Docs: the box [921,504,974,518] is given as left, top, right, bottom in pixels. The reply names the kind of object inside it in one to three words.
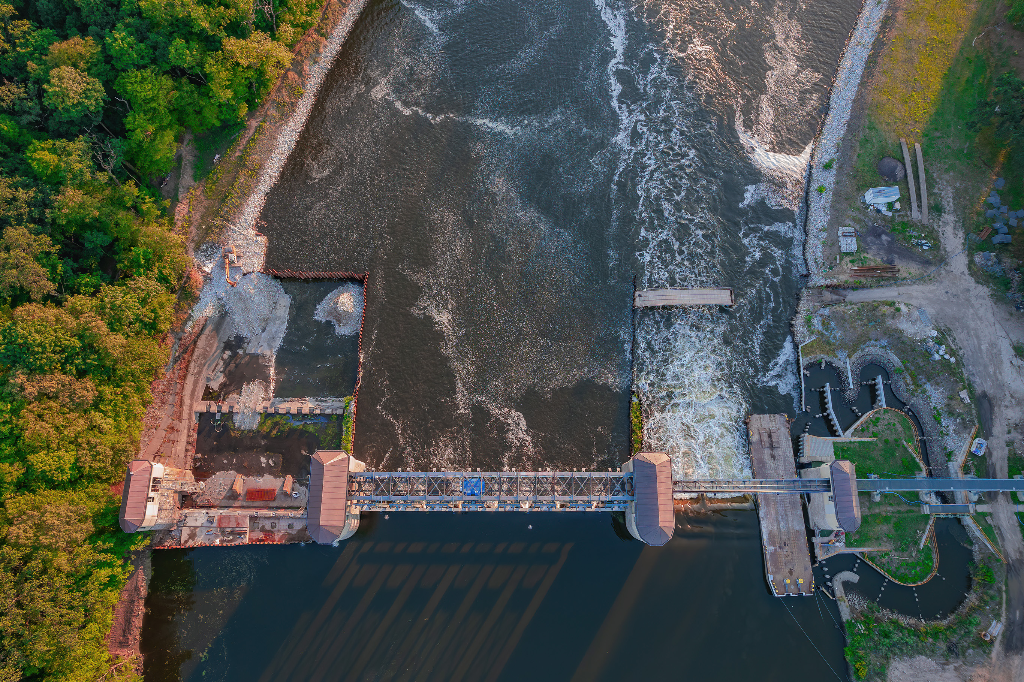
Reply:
bridge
